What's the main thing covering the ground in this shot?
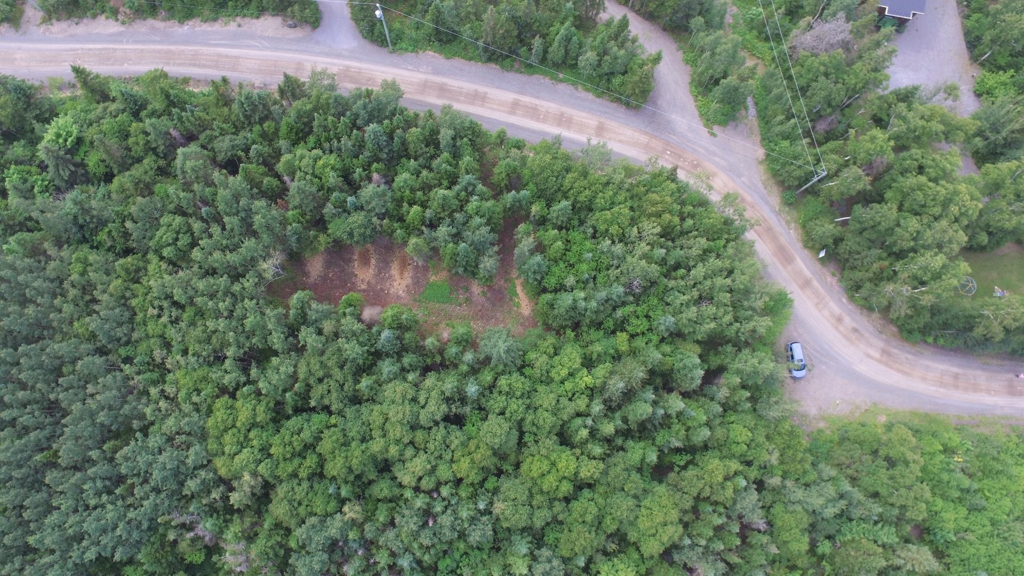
trees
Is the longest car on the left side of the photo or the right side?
right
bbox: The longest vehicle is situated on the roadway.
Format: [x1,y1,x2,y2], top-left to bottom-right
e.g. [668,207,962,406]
[785,343,808,381]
